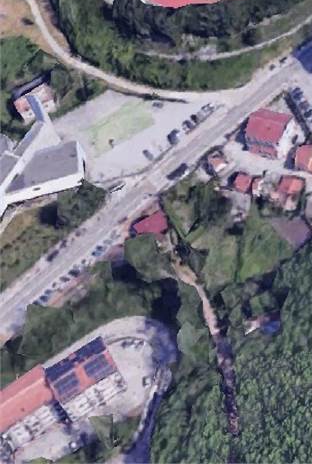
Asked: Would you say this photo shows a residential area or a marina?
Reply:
residential area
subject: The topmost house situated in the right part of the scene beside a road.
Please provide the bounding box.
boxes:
[245,107,298,152]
